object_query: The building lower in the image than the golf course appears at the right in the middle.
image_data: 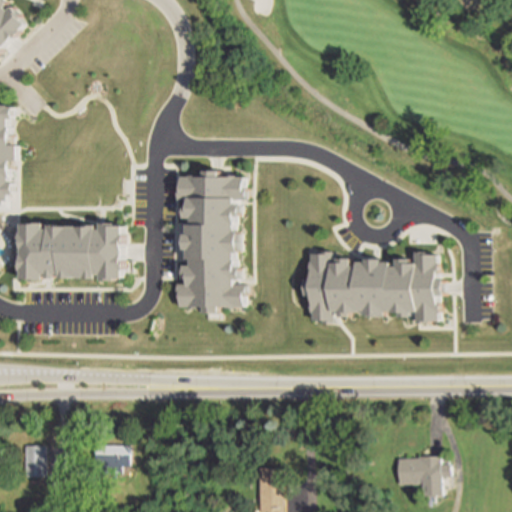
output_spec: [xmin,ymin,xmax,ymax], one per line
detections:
[304,251,446,328]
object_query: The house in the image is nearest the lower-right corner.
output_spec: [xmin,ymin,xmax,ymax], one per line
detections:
[396,457,452,506]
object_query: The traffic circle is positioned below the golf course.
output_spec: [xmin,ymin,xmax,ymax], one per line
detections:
[362,198,393,228]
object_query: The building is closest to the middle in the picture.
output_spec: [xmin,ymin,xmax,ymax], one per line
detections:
[174,171,252,314]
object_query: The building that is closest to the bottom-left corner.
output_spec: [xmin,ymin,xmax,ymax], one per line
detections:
[25,446,48,478]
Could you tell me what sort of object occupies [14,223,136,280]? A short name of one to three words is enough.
building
